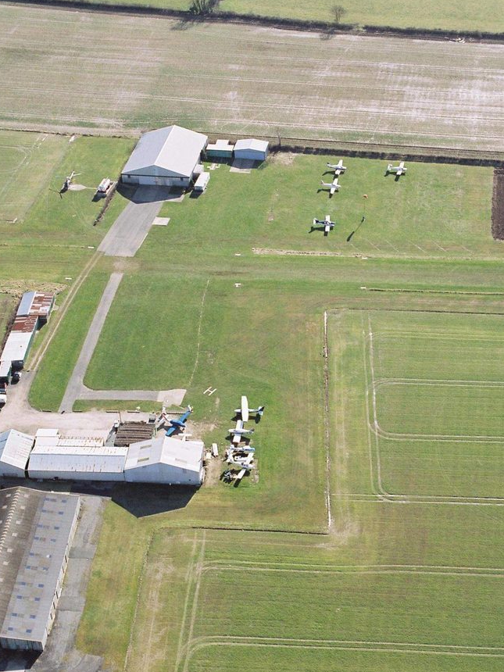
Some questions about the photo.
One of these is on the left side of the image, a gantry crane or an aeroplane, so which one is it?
aeroplane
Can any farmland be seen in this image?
Yes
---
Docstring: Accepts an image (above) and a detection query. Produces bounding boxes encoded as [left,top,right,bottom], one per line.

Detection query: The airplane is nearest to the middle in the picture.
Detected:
[236,395,265,421]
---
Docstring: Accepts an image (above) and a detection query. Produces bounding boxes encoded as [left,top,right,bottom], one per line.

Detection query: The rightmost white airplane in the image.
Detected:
[387,160,406,174]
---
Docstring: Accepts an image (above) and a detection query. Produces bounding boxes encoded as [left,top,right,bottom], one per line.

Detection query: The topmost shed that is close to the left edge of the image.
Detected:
[13,290,54,322]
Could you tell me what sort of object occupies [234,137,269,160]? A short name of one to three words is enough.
hangar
